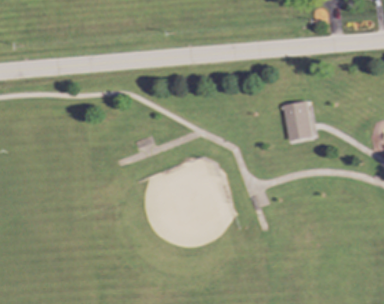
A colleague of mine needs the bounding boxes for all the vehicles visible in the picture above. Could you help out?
[376,0,382,6]
[335,8,340,19]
